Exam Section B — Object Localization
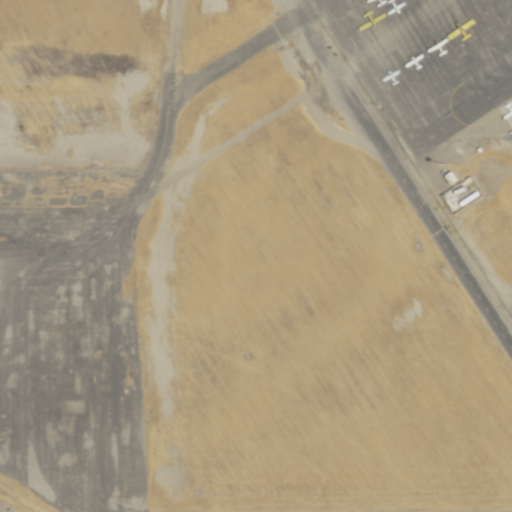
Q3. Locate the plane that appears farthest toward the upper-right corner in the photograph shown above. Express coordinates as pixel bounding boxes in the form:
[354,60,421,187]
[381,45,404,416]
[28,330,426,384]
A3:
[447,19,476,41]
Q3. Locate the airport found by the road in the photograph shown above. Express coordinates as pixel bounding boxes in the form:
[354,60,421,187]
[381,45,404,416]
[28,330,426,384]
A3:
[170,0,512,360]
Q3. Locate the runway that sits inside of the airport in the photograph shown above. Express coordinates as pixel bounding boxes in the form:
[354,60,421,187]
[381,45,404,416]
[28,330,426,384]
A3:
[333,72,512,360]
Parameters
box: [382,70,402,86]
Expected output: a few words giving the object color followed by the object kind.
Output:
white airplane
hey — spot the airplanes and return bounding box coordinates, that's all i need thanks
[404,54,424,70]
[382,70,402,86]
[388,0,407,16]
[428,38,449,57]
[447,19,476,41]
[359,10,387,30]
[502,102,512,118]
